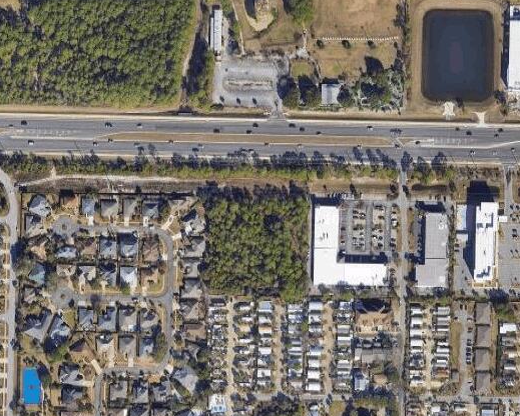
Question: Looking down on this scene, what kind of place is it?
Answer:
residential area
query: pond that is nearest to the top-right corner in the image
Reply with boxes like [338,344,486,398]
[422,10,495,103]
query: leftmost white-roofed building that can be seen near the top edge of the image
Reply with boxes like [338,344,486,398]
[210,10,223,54]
